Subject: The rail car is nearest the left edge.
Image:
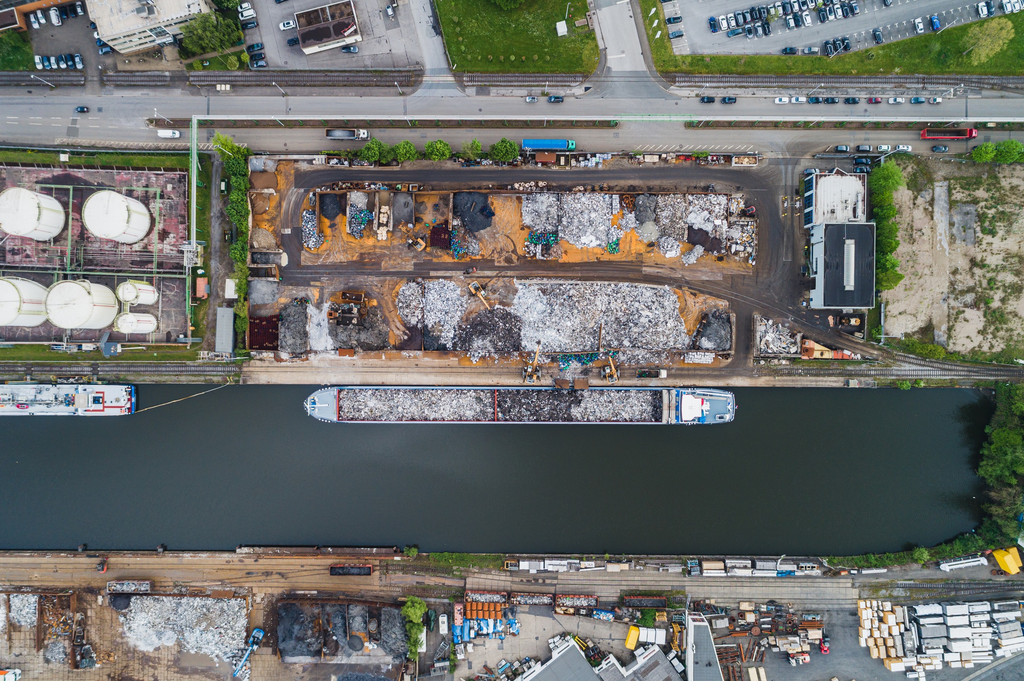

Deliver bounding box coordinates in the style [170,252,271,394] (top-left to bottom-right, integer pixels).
[107,580,156,593]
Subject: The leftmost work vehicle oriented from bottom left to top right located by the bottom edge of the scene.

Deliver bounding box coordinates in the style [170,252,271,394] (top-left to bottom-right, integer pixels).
[227,625,267,681]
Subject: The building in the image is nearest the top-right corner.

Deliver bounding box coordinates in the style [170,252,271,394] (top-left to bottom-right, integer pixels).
[804,168,867,228]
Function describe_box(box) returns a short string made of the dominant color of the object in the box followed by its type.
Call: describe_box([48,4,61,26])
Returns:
white vehicle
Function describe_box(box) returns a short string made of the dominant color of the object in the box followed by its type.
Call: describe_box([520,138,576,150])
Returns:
blue vehicle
